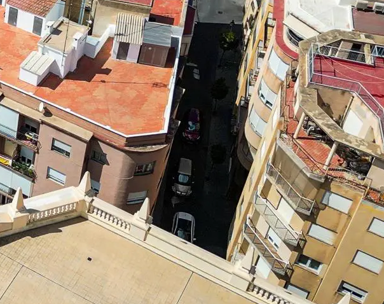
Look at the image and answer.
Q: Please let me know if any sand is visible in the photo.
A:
No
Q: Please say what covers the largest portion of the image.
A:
buildings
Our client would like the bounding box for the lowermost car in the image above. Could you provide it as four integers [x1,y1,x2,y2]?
[172,207,198,249]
